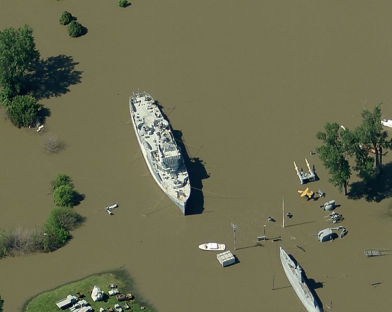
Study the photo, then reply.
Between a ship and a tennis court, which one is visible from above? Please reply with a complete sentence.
There is a ship in the scene.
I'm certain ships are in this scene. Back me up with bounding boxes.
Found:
[131,93,188,212]
[279,242,322,312]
